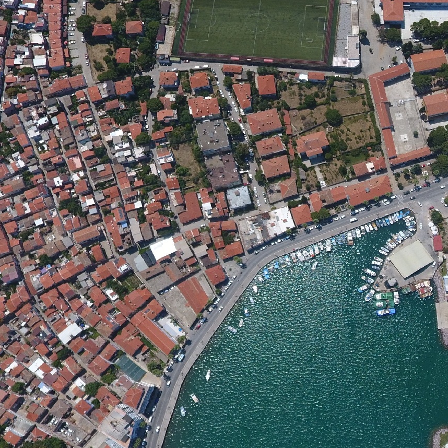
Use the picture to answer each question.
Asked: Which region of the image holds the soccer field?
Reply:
top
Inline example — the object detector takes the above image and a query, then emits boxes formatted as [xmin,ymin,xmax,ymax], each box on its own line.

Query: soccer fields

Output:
[172,0,338,66]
